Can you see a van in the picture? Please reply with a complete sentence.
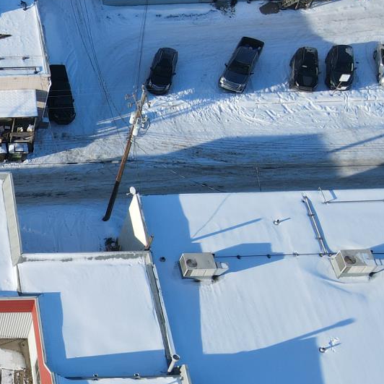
Yes, the image includes a van.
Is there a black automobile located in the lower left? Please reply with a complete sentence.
No, no black automobile appears in the lower left.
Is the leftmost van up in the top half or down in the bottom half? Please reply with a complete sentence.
The leftmost van sits in the top half of the picture.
